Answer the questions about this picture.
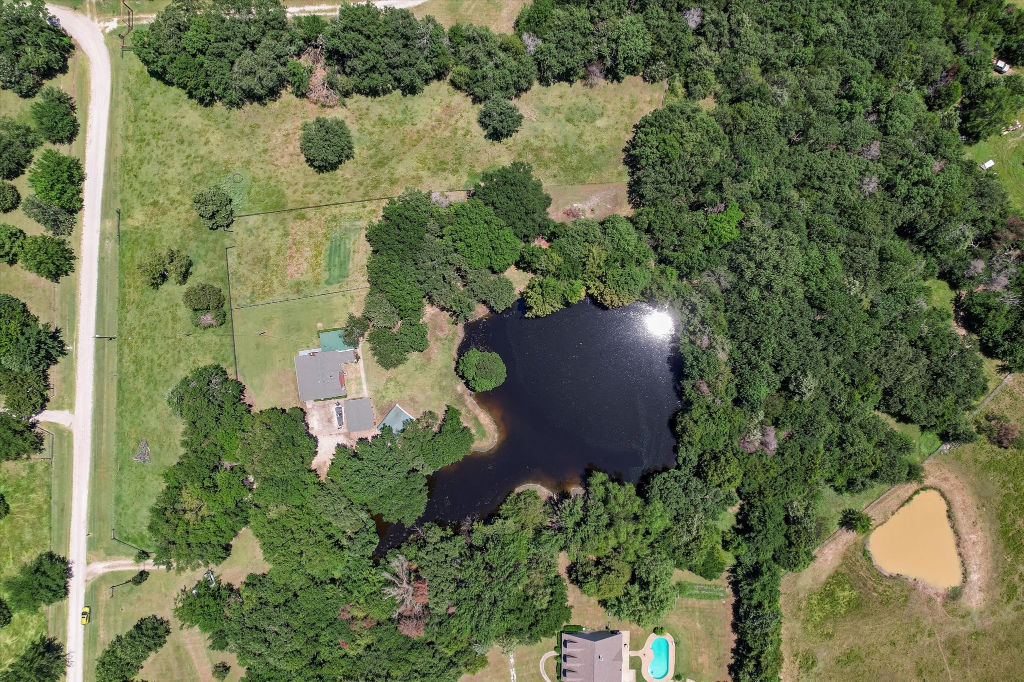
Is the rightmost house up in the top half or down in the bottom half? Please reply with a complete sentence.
Seen from above, the rightmost house lies in the bottom half of the view.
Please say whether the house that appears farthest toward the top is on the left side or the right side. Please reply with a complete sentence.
It is on the left.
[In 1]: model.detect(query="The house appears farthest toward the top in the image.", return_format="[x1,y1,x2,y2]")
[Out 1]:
[294,331,357,402]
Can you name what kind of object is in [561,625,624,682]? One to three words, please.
house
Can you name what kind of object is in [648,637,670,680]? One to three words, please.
swimming pool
